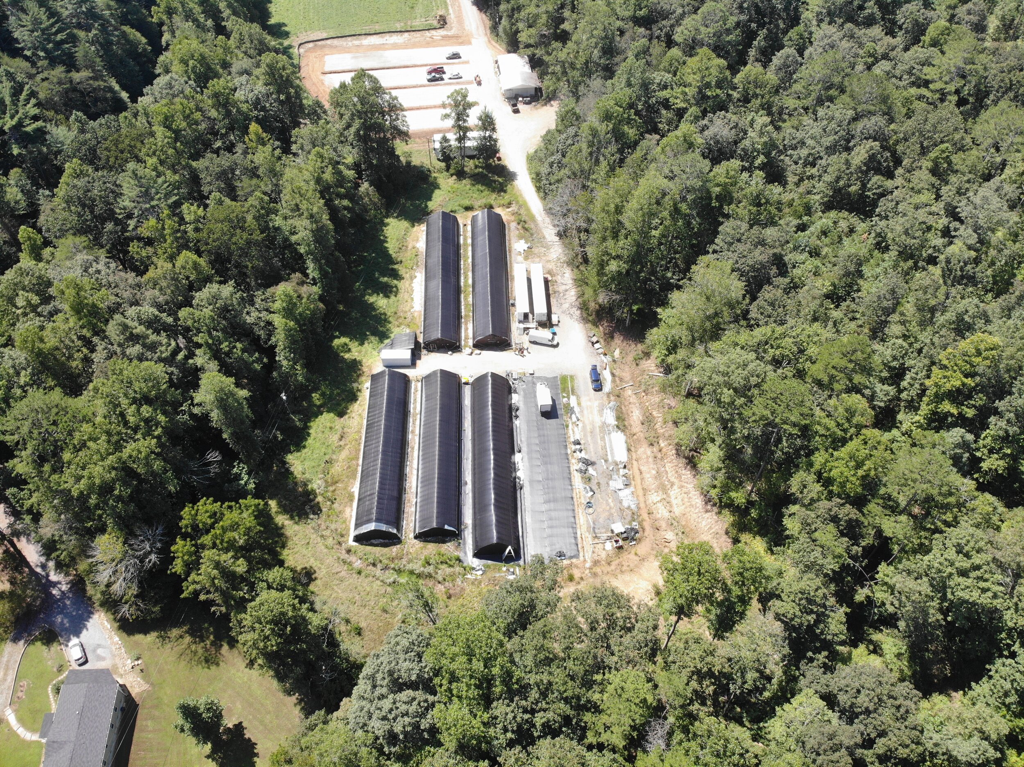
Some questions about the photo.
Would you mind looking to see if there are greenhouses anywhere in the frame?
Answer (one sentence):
Yes, a greenhouse appears in the view.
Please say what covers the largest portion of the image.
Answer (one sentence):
What you mostly see from above here is trees.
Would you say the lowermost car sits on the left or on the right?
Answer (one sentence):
It is on the left.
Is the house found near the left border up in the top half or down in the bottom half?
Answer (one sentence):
You can find the house found near the left border in the bottom half.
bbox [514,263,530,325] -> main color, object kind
white trailer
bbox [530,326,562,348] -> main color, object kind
white vehicle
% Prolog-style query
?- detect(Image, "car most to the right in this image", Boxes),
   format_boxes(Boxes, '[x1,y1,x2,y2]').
[588,362,605,391]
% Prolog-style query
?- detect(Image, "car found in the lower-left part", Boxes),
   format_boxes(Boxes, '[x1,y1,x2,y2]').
[63,634,85,668]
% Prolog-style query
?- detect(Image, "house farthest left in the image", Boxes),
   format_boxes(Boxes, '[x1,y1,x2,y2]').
[34,670,128,767]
